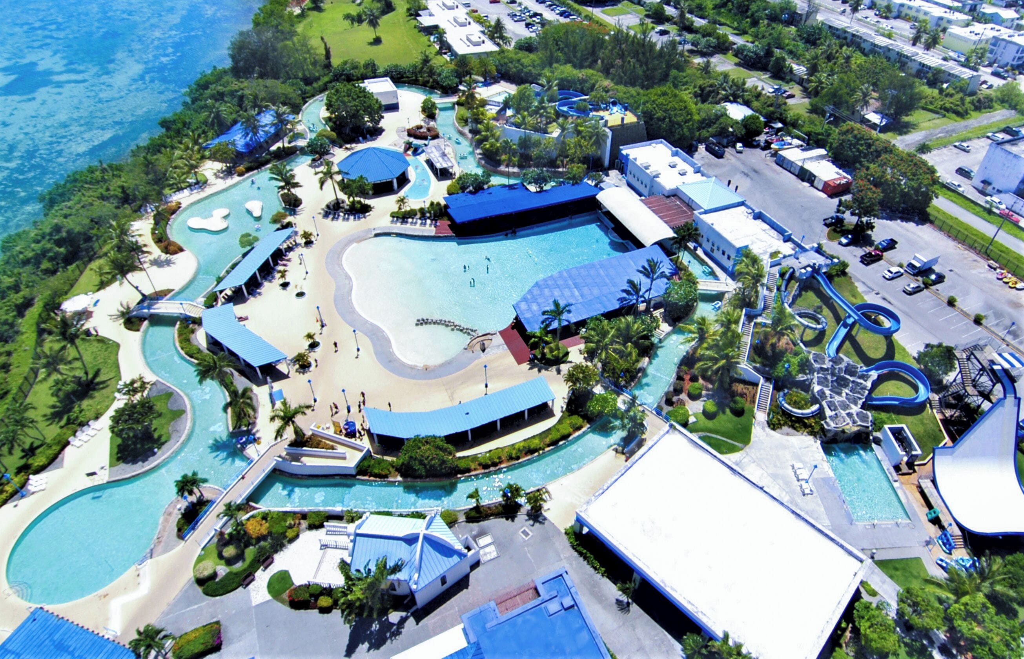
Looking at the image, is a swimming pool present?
Yes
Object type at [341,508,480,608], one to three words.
house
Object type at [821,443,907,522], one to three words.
swimming pool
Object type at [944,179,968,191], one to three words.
vehicle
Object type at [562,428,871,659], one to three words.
building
